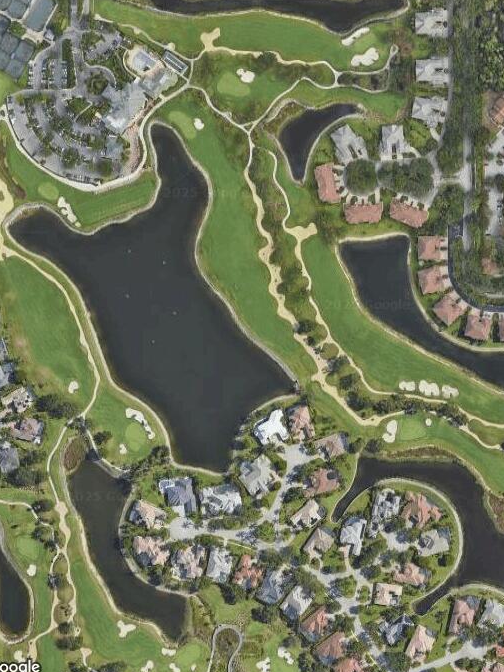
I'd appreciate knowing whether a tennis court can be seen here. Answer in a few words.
Yes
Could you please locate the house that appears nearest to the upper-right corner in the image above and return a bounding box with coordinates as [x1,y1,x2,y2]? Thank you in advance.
[414,9,448,36]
